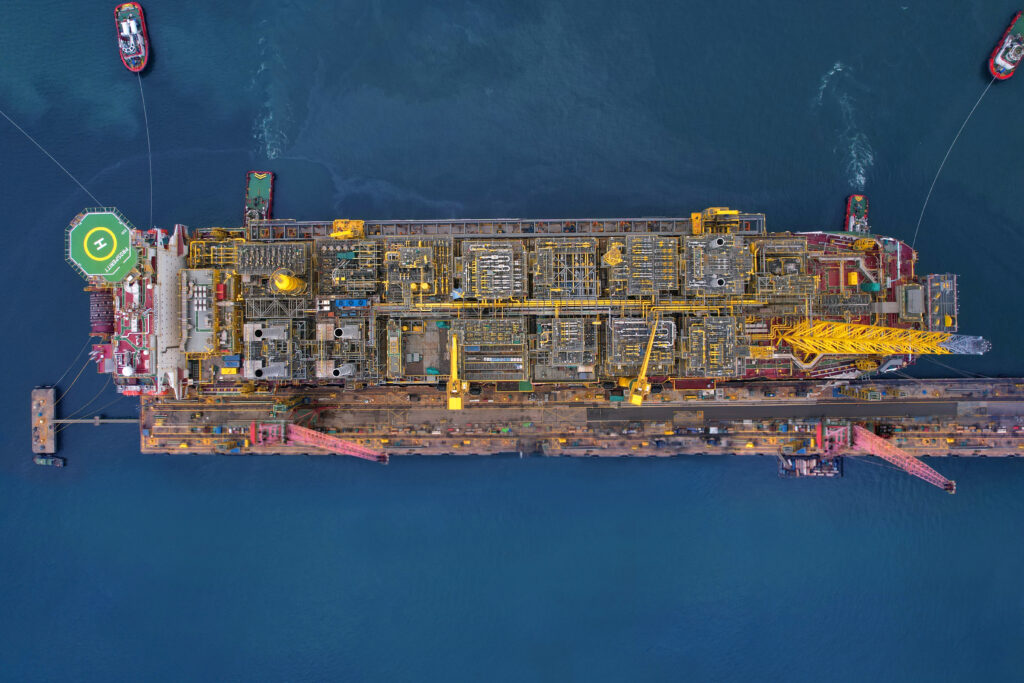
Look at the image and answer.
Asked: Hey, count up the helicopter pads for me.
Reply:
1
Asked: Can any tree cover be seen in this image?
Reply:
No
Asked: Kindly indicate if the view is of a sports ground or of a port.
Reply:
port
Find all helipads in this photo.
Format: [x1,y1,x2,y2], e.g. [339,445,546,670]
[65,208,139,282]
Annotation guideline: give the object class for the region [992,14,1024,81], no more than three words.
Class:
boat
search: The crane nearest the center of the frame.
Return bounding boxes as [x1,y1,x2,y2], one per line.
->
[447,333,470,409]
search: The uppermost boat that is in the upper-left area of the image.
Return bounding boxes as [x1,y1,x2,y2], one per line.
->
[115,1,150,71]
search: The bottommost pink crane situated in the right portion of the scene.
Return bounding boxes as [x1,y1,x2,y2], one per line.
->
[814,421,955,494]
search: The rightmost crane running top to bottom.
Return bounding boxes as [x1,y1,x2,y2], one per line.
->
[628,319,659,405]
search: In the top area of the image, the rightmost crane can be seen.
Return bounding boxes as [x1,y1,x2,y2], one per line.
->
[688,207,739,235]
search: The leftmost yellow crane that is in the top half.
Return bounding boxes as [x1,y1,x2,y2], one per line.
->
[330,219,365,239]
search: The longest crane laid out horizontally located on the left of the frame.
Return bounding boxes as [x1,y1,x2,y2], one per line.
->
[250,419,396,465]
